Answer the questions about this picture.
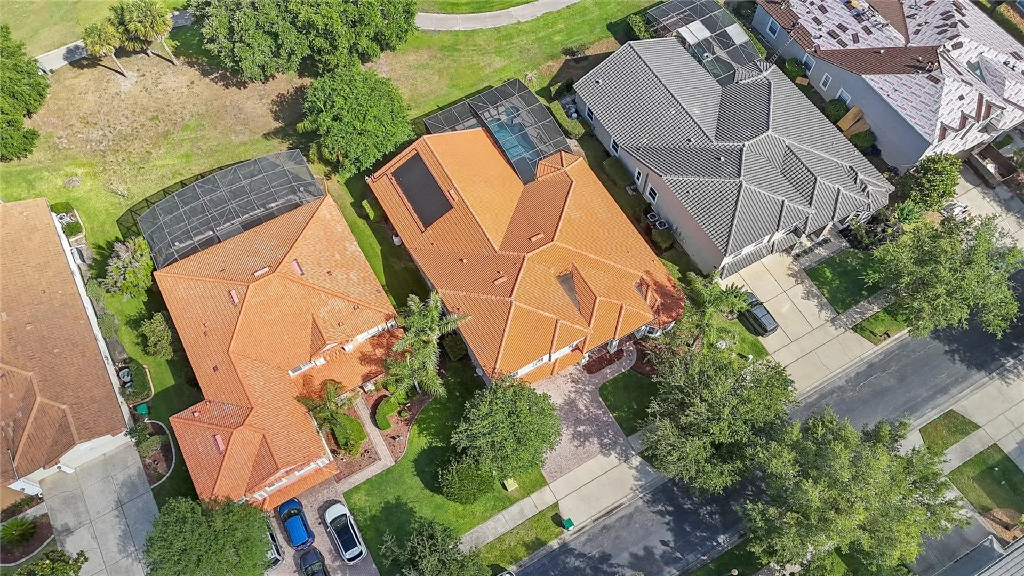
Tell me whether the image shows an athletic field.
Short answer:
No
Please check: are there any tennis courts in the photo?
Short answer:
No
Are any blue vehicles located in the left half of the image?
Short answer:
Yes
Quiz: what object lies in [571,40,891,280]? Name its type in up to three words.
house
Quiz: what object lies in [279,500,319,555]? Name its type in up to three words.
car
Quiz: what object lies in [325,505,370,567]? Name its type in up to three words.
car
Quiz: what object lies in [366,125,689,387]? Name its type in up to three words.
house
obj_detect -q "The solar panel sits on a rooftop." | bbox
[391,153,453,227]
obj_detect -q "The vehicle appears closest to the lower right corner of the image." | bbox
[734,292,780,340]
